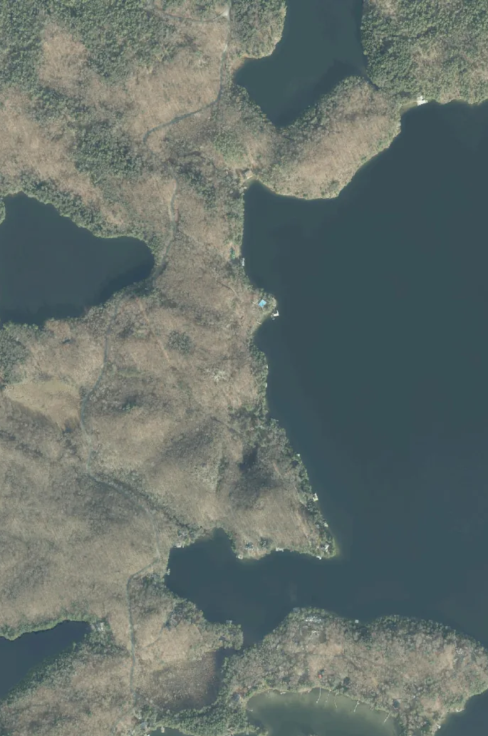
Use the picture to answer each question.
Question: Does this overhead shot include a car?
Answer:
No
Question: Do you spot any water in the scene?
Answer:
Yes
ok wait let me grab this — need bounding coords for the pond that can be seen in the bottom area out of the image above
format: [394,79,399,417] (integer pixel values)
[0,622,88,695]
